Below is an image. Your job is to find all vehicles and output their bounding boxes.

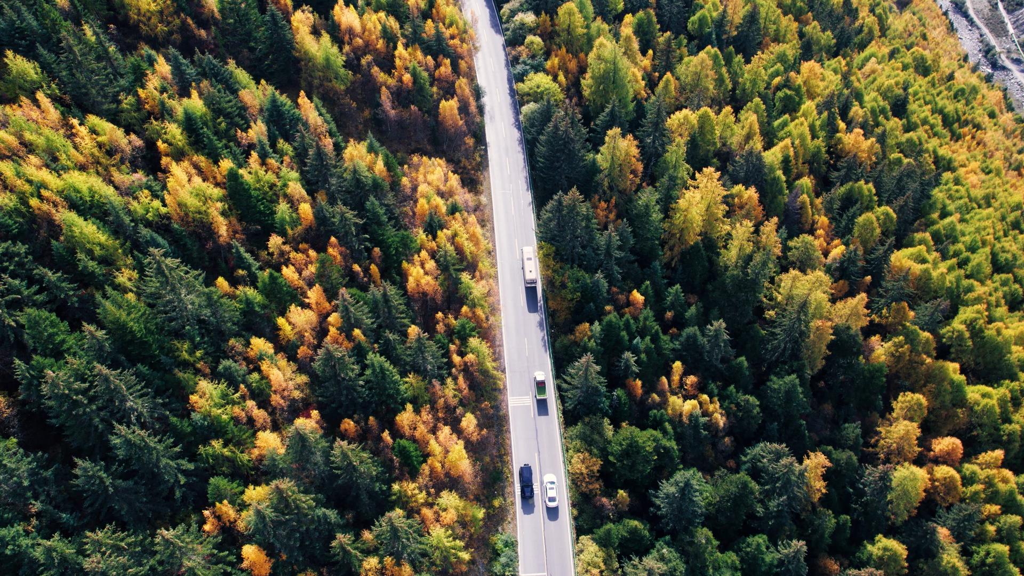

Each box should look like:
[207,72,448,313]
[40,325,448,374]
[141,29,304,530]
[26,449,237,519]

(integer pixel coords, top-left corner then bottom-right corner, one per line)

[543,471,559,505]
[519,464,535,497]
[533,371,549,399]
[520,247,537,286]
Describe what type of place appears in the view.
forest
